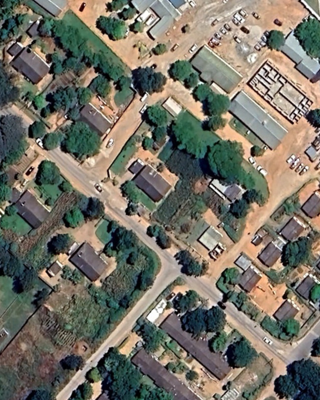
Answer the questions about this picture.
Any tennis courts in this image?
No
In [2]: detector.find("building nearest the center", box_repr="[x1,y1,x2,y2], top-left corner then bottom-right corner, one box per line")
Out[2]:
[132,165,172,202]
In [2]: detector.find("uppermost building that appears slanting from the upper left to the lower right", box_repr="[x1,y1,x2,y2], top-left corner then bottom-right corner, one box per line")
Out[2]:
[156,0,187,24]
